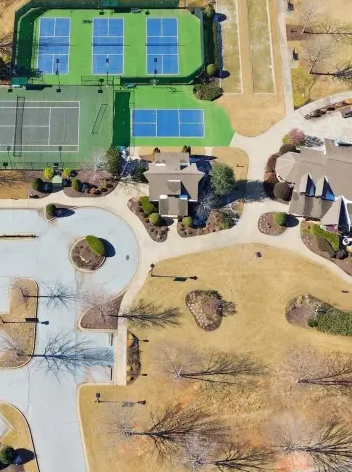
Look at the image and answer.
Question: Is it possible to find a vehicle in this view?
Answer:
No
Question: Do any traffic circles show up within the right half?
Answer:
No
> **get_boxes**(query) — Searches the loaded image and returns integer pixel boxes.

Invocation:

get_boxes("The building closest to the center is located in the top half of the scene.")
[143,151,205,220]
